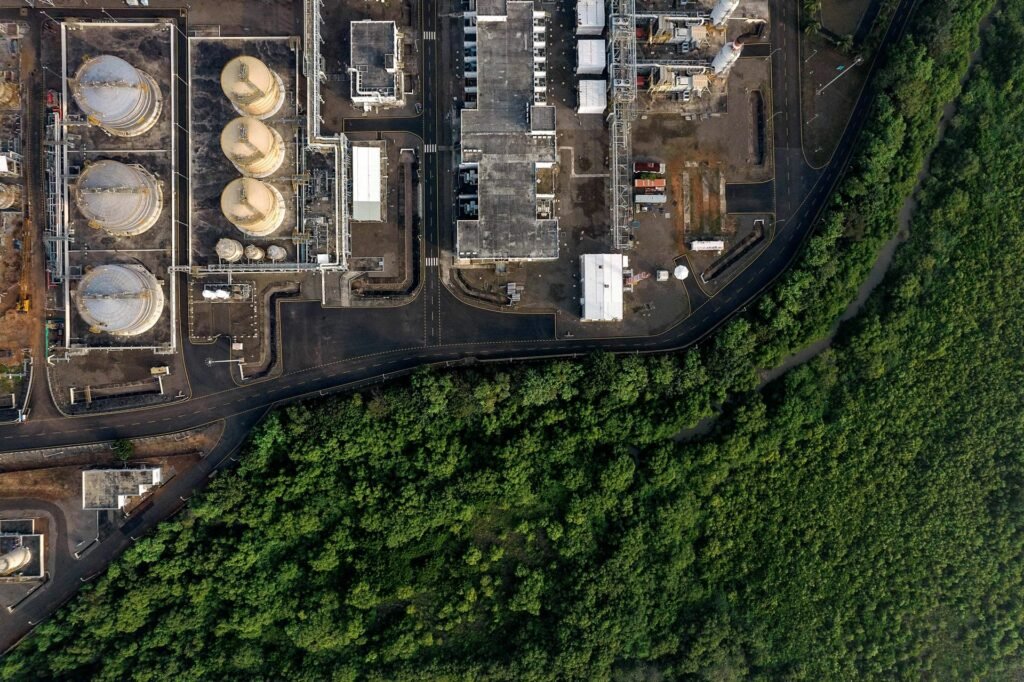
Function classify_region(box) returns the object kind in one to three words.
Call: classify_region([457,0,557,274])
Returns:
building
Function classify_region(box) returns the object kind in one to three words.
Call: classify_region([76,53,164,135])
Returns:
storage tank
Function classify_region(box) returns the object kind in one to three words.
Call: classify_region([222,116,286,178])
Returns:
storage tank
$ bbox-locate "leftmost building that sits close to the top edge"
[343,21,404,117]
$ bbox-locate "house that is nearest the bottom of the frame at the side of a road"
[83,454,160,509]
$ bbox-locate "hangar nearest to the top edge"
[574,0,605,36]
